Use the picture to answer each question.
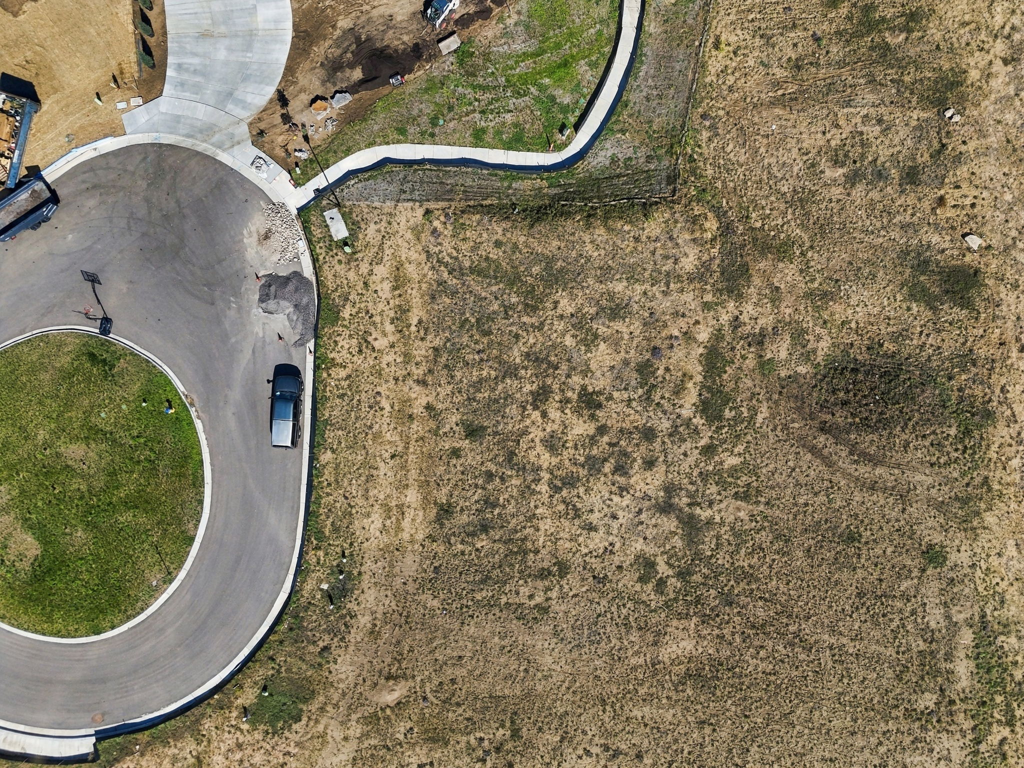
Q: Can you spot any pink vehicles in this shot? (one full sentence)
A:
No, there is no pink vehicle in the image.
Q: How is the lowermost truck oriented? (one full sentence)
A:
The lowermost truck is laid out vertically.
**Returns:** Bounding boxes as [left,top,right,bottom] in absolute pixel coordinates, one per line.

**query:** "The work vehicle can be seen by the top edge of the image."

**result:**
[421,0,459,38]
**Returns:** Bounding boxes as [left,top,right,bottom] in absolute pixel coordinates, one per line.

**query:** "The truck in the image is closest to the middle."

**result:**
[271,376,303,449]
